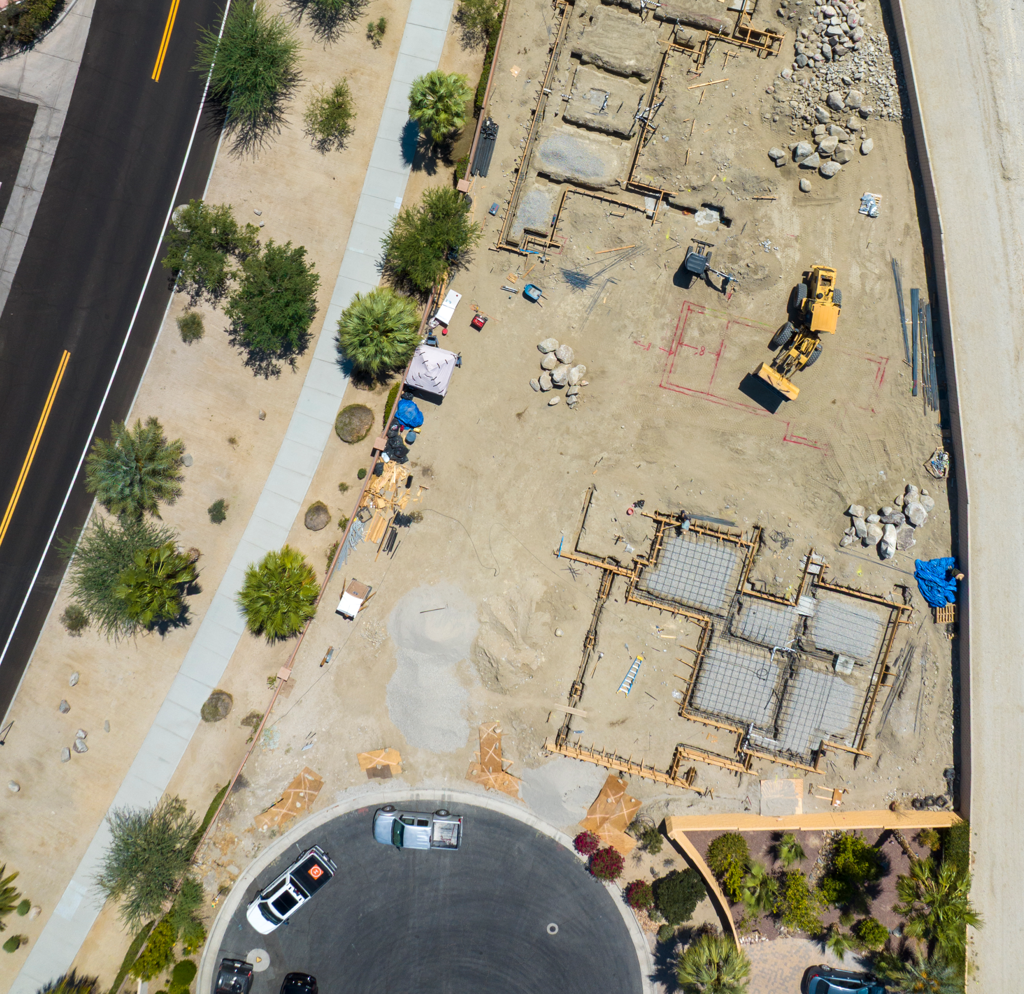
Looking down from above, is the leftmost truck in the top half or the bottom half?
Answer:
bottom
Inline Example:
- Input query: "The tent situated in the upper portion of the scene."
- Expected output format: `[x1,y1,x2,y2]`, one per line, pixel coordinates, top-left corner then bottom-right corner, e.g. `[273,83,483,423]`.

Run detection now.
[404,343,464,397]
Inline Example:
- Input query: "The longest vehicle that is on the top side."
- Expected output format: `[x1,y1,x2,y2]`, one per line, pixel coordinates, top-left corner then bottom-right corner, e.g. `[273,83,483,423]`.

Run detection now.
[755,268,842,398]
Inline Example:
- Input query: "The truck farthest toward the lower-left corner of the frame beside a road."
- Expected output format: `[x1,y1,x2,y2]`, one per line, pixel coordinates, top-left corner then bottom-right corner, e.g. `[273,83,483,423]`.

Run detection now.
[212,954,253,994]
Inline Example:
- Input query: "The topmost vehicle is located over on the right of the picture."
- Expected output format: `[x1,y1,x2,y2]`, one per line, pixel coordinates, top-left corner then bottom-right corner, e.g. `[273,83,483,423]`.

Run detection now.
[682,238,737,281]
